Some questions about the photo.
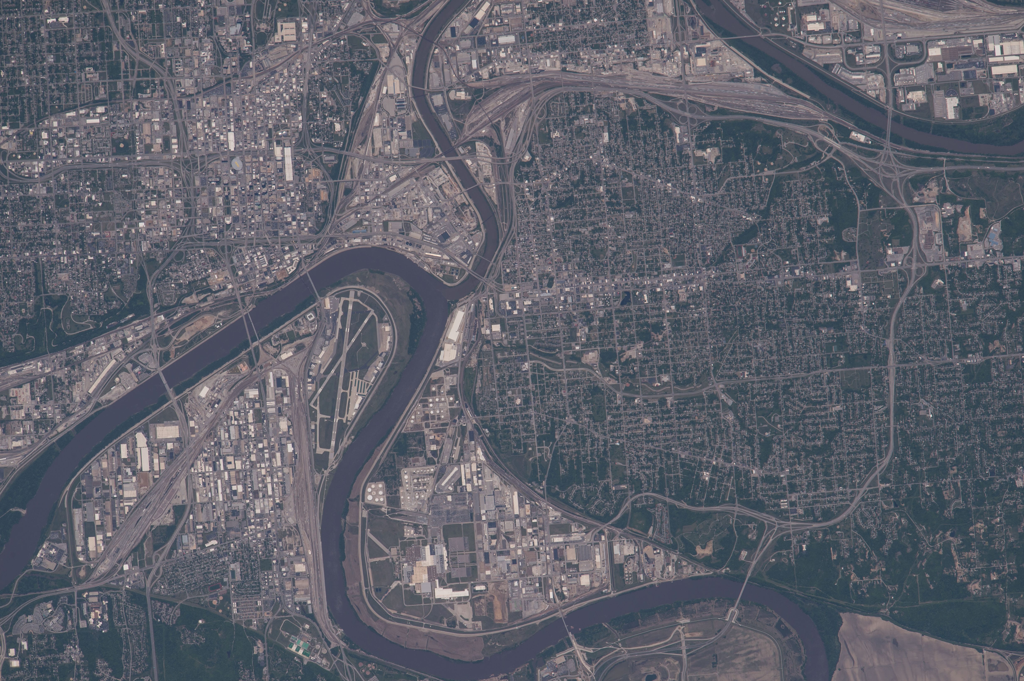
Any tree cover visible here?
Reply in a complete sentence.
Yes, tree cover shows up in the scene.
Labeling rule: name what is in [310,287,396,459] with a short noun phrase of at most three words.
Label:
airport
